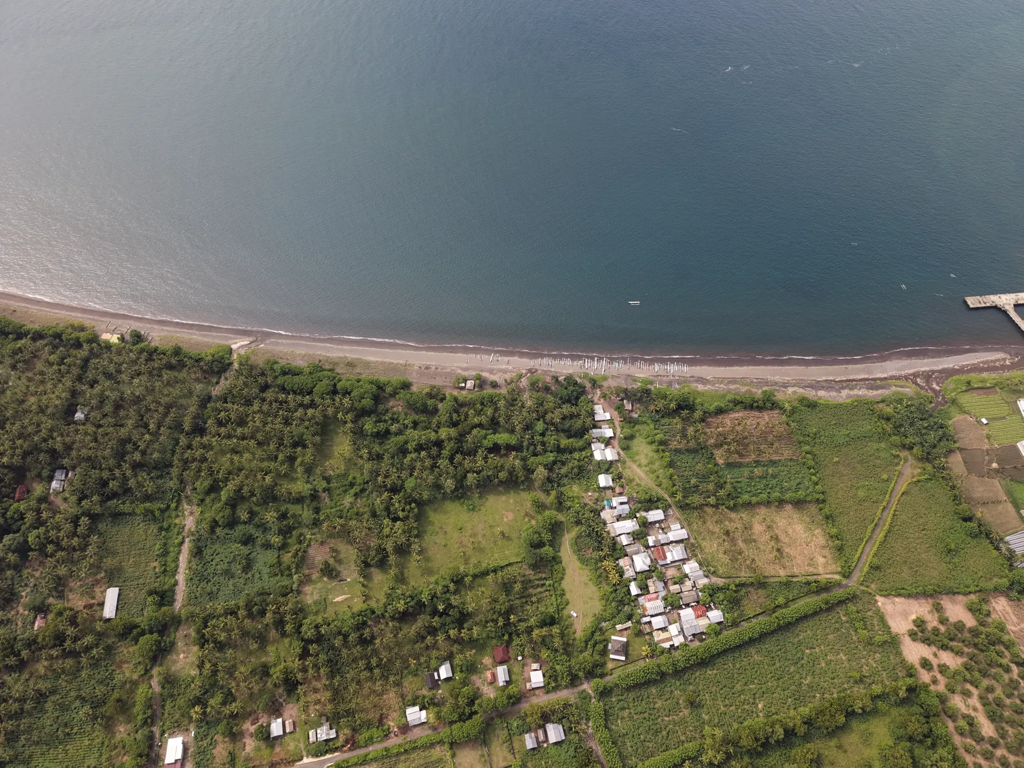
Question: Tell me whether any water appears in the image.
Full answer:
Yes, the picture does contain water.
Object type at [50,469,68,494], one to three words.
house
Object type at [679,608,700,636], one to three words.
house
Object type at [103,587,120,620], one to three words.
barn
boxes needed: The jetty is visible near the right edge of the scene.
[964,292,1024,331]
